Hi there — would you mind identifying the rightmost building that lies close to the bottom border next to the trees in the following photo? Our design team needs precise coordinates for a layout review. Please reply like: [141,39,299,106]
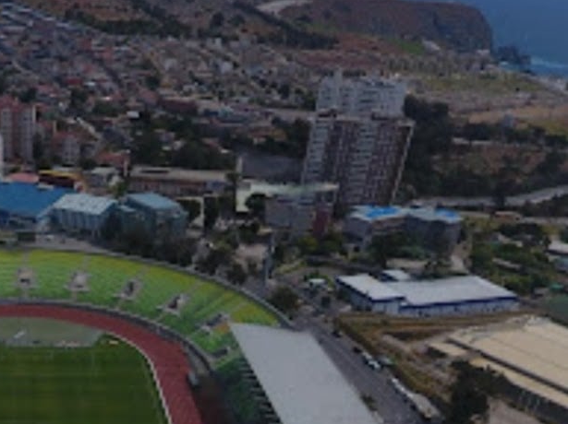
[444,315,568,424]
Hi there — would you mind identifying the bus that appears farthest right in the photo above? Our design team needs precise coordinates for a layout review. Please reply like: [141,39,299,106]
[410,396,438,421]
